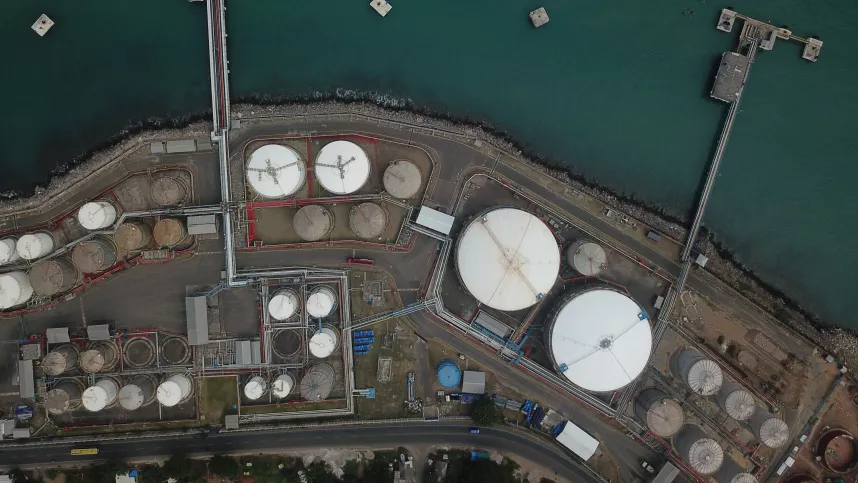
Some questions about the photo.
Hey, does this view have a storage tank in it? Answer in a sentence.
Yes, the image includes a storage tank.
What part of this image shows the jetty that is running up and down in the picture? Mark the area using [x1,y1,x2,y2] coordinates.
[207,0,231,140]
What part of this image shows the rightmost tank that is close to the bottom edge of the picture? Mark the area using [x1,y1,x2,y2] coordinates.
[815,428,858,474]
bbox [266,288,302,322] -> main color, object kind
white storage tank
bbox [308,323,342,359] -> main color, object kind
white storage tank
